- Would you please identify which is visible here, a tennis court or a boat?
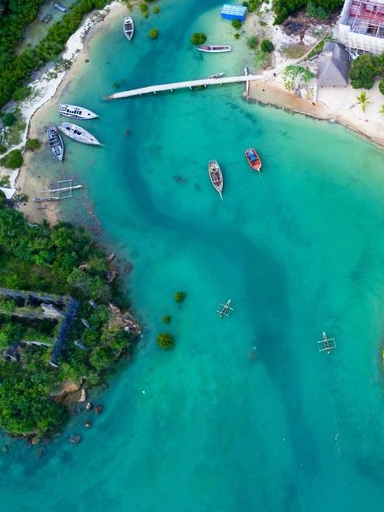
boat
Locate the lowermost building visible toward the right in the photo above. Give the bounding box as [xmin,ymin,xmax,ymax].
[317,41,350,93]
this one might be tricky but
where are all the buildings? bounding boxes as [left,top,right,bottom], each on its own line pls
[222,4,248,23]
[317,41,350,93]
[339,0,384,56]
